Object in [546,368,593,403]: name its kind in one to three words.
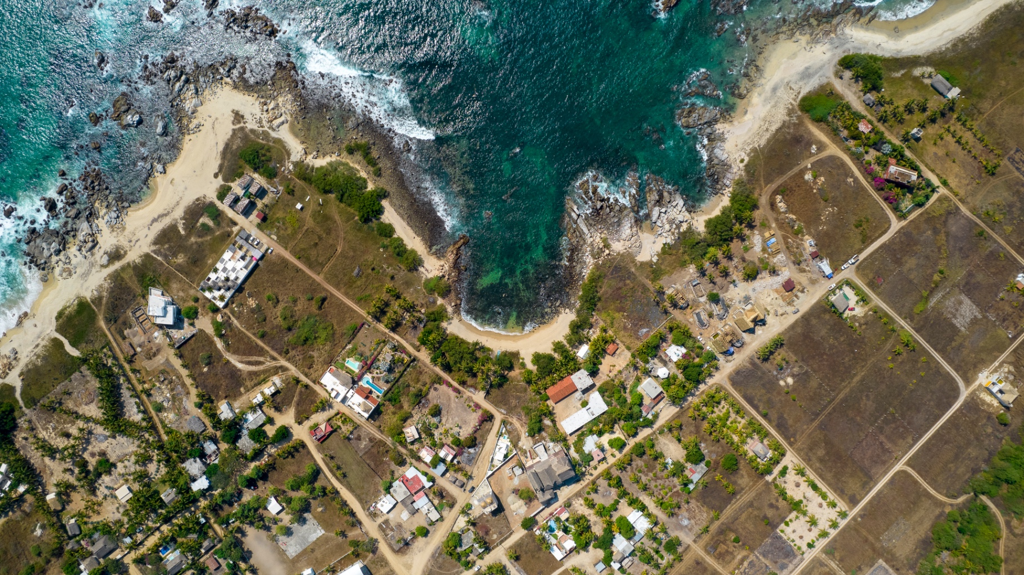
barn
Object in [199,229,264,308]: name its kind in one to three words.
building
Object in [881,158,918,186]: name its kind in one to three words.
house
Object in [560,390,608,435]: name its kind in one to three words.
house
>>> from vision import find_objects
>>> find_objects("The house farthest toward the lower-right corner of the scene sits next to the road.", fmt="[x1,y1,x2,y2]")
[981,376,1020,408]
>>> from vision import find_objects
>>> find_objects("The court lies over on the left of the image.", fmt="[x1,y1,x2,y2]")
[276,513,325,557]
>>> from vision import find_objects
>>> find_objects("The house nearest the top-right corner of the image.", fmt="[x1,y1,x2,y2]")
[929,74,961,100]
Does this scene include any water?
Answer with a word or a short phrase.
Yes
